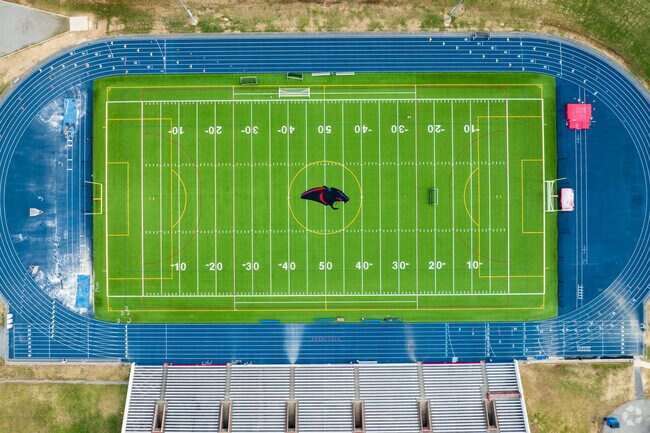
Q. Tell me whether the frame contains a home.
No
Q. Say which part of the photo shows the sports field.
center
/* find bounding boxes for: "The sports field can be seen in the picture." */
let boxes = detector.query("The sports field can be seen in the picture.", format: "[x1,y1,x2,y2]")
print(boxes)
[91,70,559,324]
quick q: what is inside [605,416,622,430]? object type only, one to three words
vehicle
